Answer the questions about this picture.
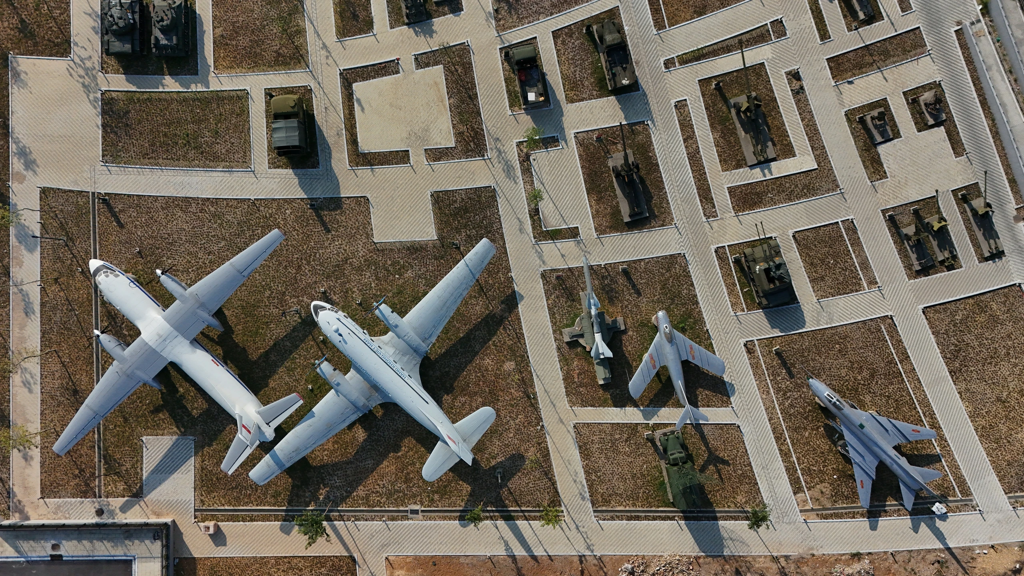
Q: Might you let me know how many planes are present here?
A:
4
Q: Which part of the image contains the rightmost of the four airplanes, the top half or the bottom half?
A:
bottom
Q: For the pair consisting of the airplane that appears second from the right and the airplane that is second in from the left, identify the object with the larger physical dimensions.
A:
the airplane that is second in from the left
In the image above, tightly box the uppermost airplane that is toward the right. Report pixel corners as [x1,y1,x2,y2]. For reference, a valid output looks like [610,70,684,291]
[621,310,729,430]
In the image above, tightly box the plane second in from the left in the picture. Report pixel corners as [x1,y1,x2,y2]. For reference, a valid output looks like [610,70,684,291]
[251,241,500,489]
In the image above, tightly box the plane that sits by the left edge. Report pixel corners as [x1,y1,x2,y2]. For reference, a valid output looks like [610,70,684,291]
[50,228,303,483]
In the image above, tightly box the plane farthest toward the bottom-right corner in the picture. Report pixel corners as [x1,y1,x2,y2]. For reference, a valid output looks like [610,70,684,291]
[802,366,952,518]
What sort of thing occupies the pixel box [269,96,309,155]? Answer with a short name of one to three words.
work vehicle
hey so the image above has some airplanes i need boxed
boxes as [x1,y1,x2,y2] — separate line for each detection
[621,310,729,430]
[251,241,500,489]
[50,228,303,483]
[802,366,952,518]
